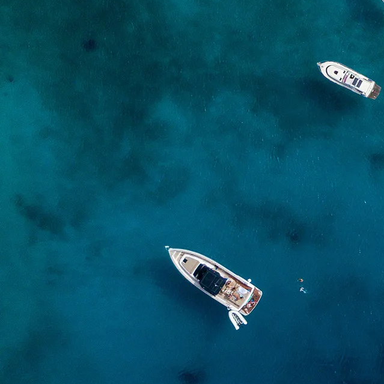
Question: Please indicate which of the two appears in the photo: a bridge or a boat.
boat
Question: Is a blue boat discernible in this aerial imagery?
No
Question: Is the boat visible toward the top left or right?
right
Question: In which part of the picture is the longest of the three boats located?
bottom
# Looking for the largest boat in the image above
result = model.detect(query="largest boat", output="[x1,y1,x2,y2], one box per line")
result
[166,247,262,315]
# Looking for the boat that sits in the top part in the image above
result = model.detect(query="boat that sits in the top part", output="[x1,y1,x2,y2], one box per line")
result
[316,61,381,99]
